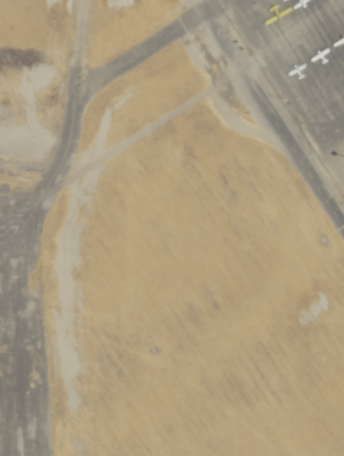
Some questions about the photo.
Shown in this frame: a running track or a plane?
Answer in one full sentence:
Looking from above, you can make out a plane.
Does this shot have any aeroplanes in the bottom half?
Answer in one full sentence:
No, no aeroplane can be made out in the bottom half.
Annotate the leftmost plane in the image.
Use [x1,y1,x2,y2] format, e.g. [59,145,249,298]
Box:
[264,5,292,25]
